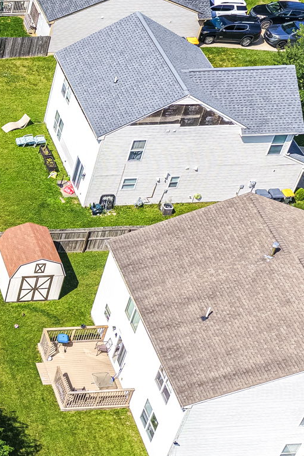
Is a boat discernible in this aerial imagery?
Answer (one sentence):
No, no boat is visible in the view.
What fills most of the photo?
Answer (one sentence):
The bulk of the photo consists of buildings.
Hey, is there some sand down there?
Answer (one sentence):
No, no sand is visible.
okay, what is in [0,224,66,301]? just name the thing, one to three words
shed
